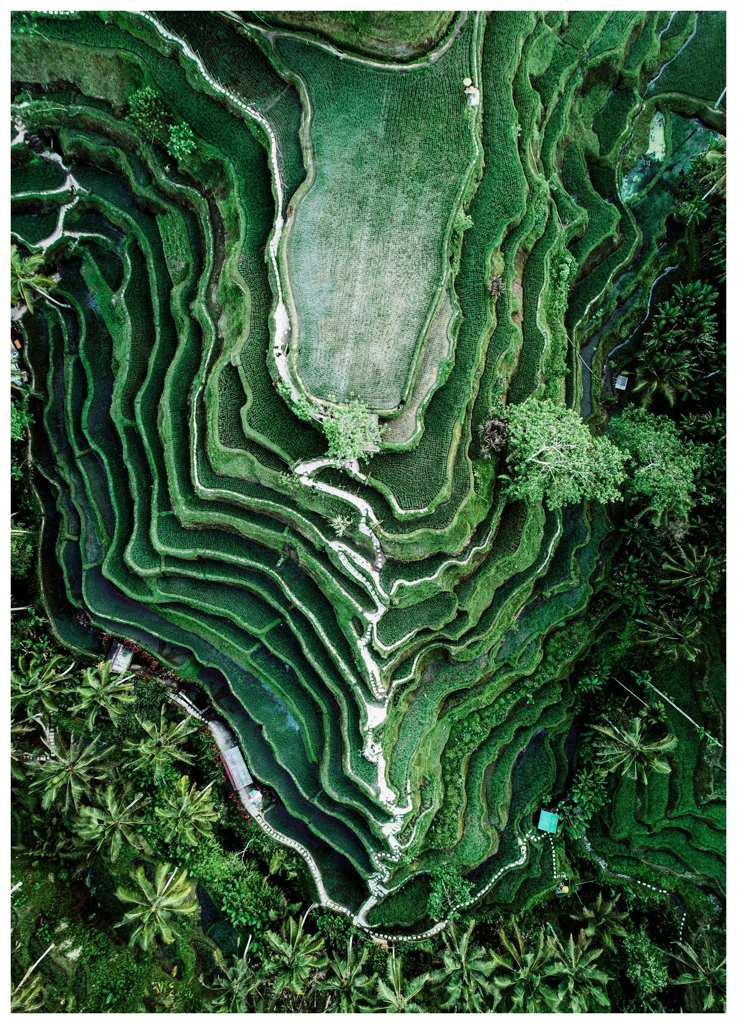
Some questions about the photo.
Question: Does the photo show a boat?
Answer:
No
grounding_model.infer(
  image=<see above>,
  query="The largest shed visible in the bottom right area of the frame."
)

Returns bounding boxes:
[535,808,559,834]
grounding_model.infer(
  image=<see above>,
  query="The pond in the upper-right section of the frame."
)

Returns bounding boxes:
[622,112,665,201]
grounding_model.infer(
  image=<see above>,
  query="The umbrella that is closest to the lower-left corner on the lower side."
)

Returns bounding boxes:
[248,789,262,804]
